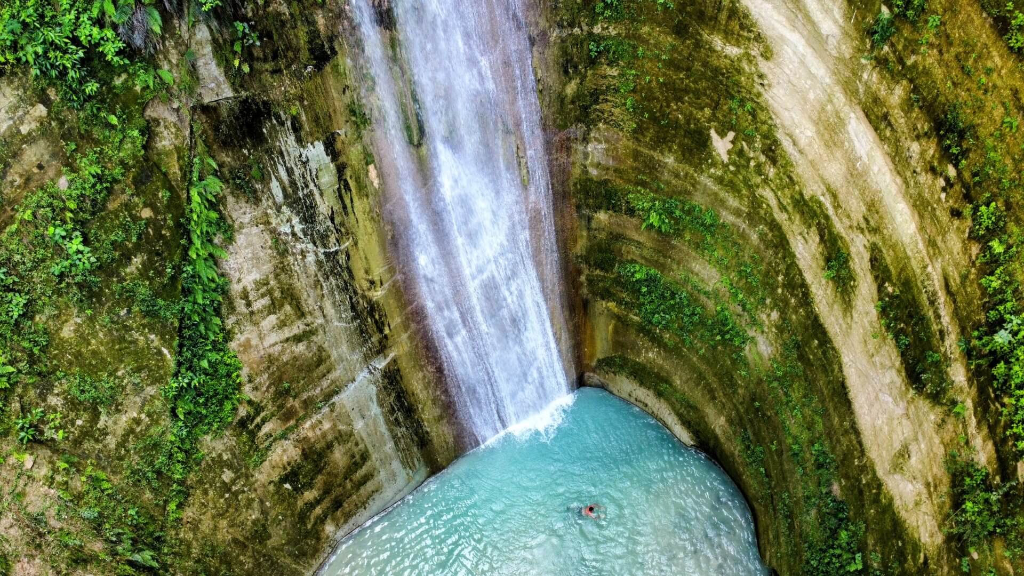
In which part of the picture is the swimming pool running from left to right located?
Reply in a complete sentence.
The swimming pool running from left to right sits in the bottom section of the image.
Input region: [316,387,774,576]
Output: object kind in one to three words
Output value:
swimming pool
